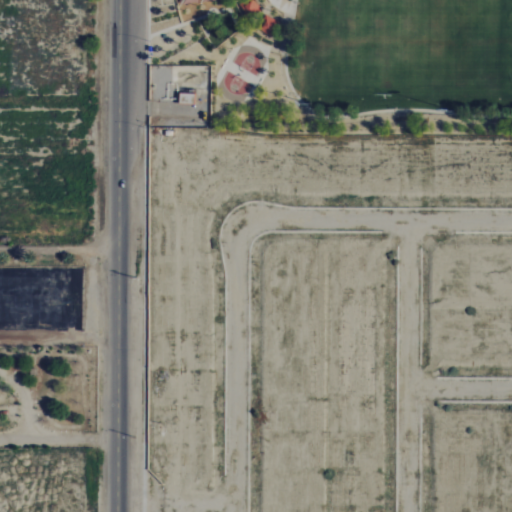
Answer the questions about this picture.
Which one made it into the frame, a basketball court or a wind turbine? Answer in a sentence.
I can see a basketball court in this picture.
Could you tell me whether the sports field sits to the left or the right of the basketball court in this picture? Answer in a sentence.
Compared with the basketball court, the sports field is located further to the right.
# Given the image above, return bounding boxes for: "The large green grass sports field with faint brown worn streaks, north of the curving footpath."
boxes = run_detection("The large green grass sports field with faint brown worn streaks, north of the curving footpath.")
[287,0,512,116]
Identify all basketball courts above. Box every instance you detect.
[216,37,272,104]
